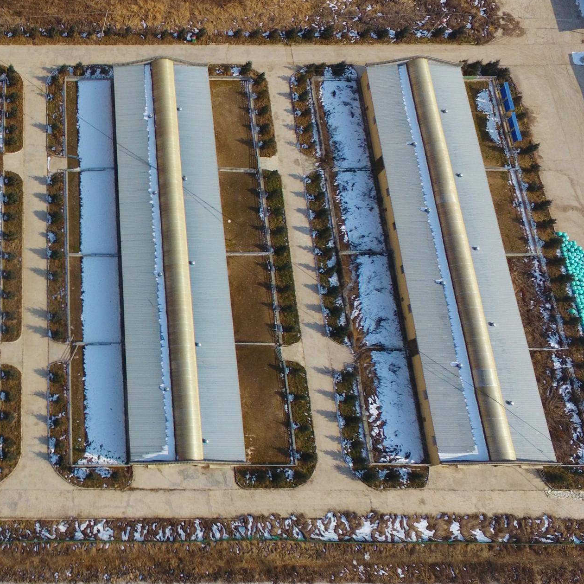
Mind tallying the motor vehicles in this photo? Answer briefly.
none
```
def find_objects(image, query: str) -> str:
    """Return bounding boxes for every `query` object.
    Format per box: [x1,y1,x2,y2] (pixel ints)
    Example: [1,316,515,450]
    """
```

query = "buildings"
[357,54,561,466]
[109,54,249,466]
